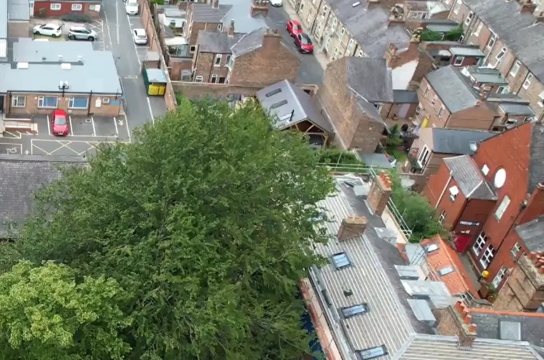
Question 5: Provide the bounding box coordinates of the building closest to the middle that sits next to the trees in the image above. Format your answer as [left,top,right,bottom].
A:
[254,77,339,161]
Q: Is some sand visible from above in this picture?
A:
No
